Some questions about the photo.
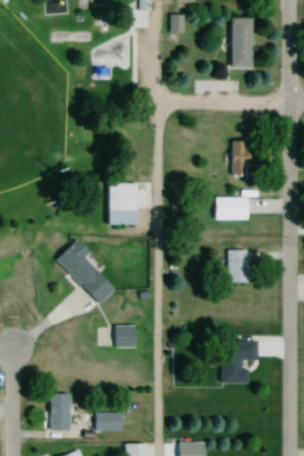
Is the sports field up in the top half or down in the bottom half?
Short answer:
top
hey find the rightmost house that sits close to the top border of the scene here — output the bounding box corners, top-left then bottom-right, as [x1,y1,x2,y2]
[232,18,254,67]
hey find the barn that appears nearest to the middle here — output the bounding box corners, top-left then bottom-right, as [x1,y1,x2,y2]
[110,182,138,224]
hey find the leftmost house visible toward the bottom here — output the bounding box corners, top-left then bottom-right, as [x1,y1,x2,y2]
[43,392,71,429]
